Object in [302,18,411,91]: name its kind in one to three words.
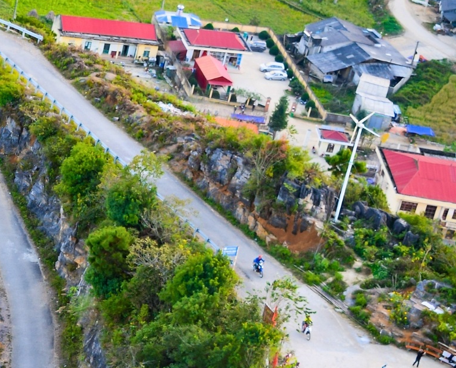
building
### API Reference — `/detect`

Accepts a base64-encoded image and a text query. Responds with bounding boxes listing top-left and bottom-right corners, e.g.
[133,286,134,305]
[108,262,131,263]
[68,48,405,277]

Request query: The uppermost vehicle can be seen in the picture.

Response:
[249,38,272,51]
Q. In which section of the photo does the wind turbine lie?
right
